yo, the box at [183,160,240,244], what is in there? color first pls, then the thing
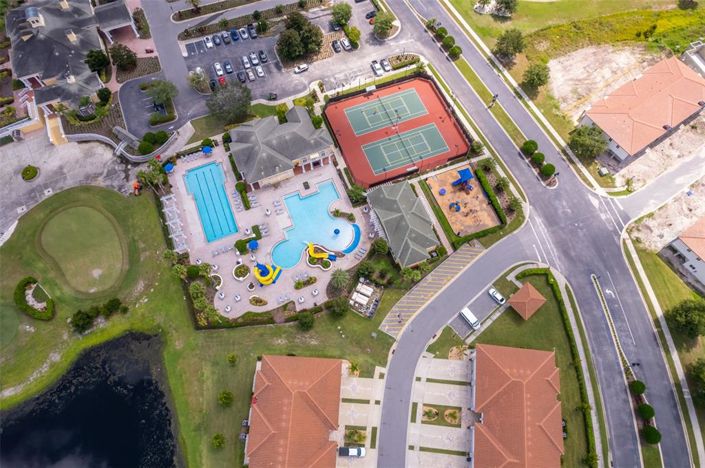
blue swimming pool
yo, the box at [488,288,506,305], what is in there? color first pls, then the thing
white car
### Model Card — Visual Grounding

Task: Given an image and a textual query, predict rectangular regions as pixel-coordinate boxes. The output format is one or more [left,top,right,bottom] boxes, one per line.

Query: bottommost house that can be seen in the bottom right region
[472,345,571,468]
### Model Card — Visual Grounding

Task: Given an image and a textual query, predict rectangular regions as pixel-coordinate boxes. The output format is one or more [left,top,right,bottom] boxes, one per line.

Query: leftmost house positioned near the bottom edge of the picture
[243,356,341,468]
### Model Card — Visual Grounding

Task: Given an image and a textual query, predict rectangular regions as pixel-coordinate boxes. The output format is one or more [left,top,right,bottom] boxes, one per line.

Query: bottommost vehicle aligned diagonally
[461,304,482,330]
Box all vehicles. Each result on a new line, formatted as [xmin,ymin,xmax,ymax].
[241,56,250,67]
[221,32,230,43]
[224,61,233,72]
[255,65,264,77]
[381,56,390,70]
[364,10,376,18]
[366,17,375,25]
[331,19,340,30]
[332,40,341,52]
[248,51,259,65]
[204,37,213,48]
[488,288,506,305]
[237,71,245,83]
[230,28,239,40]
[214,63,222,74]
[371,59,382,74]
[246,69,255,81]
[339,447,366,457]
[461,304,482,330]
[258,50,267,61]
[240,28,248,38]
[246,23,257,36]
[212,34,220,45]
[293,64,308,73]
